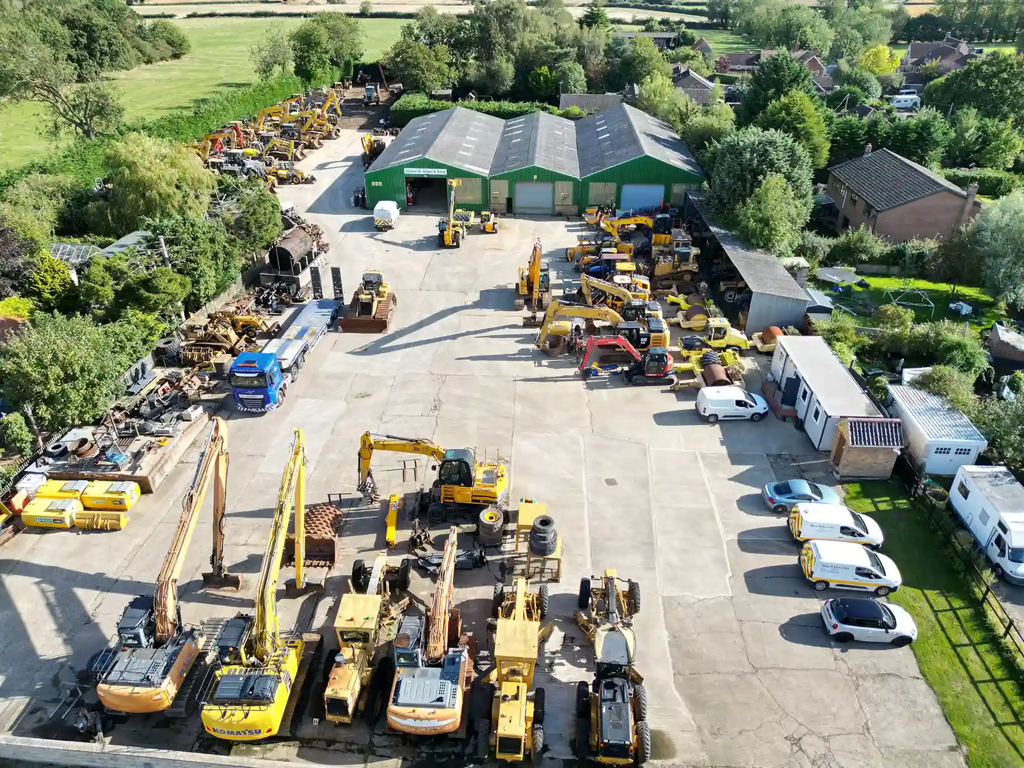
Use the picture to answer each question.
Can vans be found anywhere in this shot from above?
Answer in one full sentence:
Yes, this view includes a van.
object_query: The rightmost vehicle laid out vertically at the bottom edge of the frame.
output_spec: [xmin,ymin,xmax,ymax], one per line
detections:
[575,567,664,763]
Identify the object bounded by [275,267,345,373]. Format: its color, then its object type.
white vehicle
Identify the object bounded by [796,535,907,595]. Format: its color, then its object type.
white van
